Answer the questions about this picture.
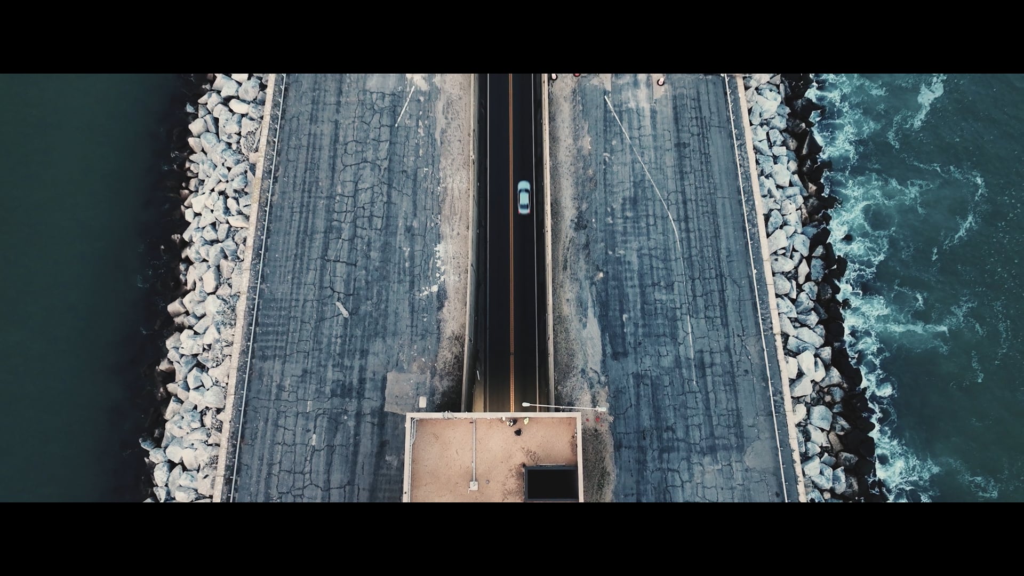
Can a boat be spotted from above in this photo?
No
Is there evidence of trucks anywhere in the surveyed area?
No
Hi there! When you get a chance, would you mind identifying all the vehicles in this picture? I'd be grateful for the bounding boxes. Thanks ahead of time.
[517,180,531,213]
